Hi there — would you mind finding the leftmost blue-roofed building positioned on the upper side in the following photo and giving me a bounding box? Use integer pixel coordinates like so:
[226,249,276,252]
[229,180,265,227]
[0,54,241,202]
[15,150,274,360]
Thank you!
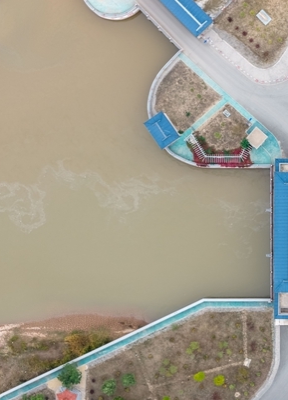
[144,111,183,149]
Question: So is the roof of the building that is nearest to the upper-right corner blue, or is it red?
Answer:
blue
